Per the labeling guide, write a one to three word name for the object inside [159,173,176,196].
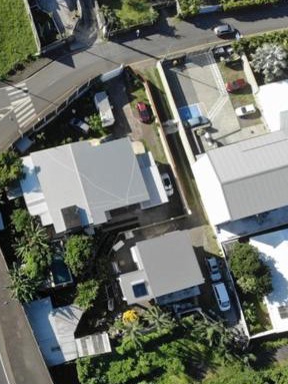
car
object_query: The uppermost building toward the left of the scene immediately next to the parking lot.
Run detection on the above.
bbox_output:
[19,136,169,233]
